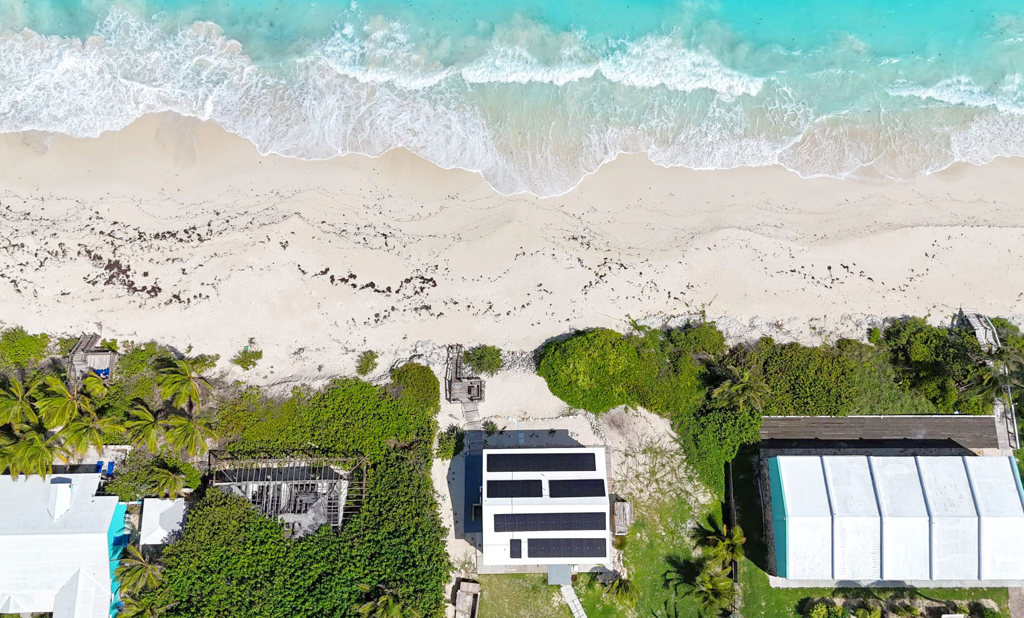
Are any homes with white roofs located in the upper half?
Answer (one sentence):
No, no home with a white roof appears in the upper half.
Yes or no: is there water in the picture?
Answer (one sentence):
Yes, there is water in the image.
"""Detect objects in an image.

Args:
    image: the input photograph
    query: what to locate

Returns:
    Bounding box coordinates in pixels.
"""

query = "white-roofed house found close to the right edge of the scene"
[760,456,1024,580]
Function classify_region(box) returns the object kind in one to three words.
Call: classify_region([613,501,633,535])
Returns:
shed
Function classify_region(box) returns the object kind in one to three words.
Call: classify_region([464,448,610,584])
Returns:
house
